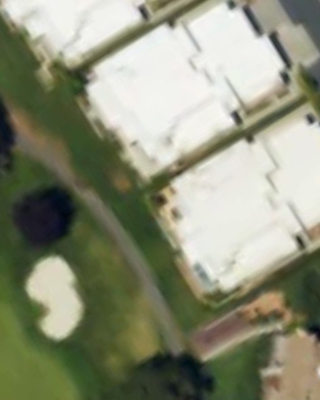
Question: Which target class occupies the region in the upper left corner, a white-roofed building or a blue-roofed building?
white-roofed building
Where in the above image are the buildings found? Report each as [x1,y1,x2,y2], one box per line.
[265,337,320,400]
[2,0,153,62]
[86,0,291,180]
[172,106,320,288]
